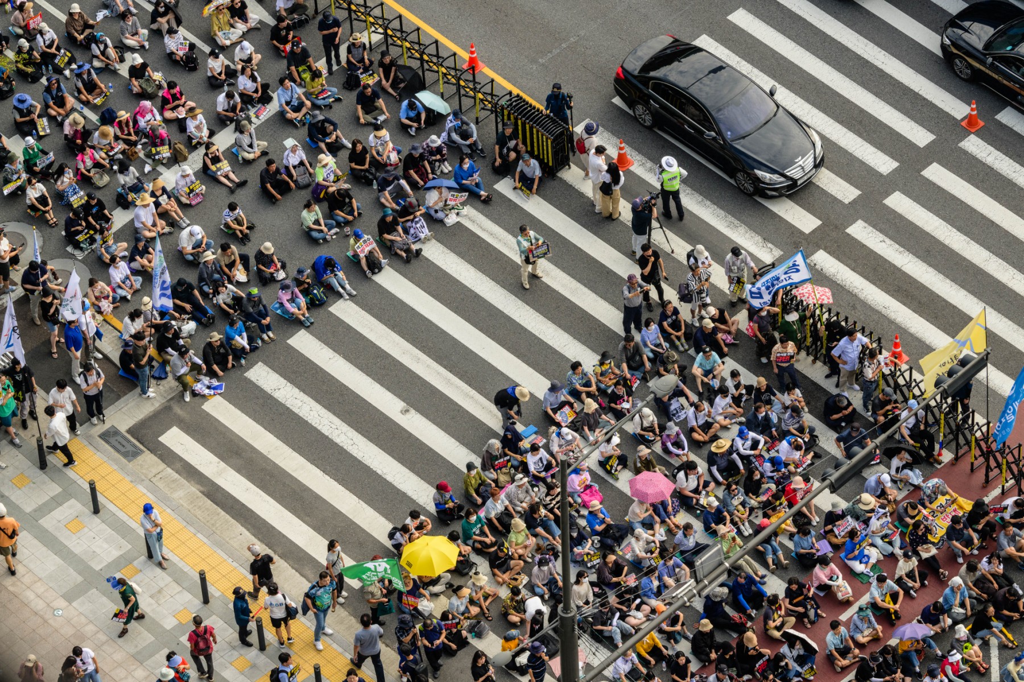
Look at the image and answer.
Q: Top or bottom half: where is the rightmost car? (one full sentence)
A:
The rightmost car is in the top half of the image.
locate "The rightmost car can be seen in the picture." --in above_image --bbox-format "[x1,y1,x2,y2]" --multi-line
[938,5,1024,117]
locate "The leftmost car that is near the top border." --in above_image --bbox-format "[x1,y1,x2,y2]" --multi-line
[615,33,828,200]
